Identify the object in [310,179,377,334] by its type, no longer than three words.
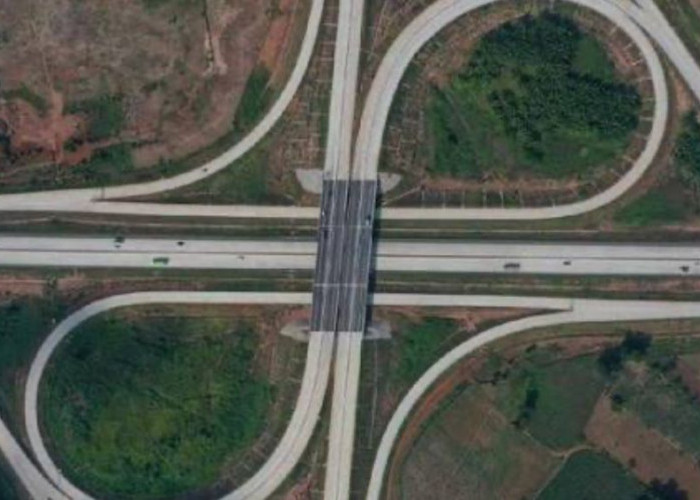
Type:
bridge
